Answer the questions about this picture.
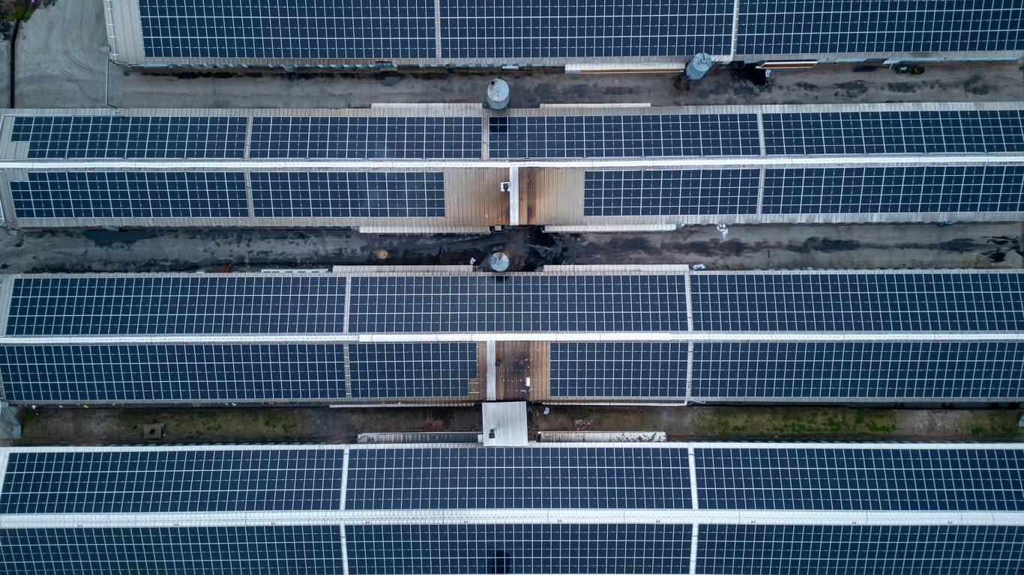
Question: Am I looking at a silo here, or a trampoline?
silo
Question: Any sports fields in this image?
No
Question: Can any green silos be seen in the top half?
No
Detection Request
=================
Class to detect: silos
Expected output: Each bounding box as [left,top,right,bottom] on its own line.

[485,79,510,112]
[489,252,510,272]
[677,51,712,91]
